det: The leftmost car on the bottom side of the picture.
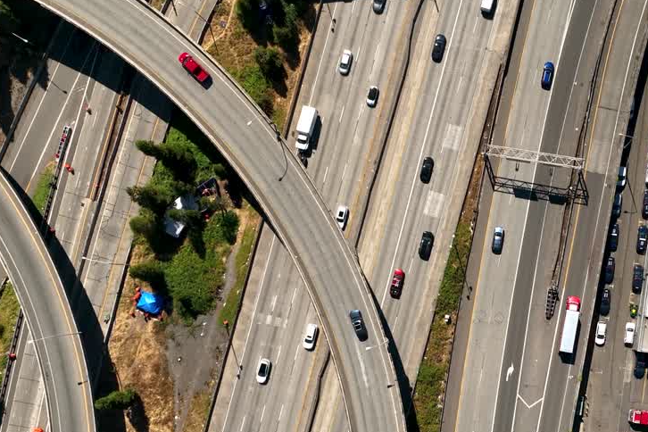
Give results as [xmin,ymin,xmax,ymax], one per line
[257,358,271,384]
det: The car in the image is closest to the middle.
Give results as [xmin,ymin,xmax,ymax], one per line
[337,204,349,230]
